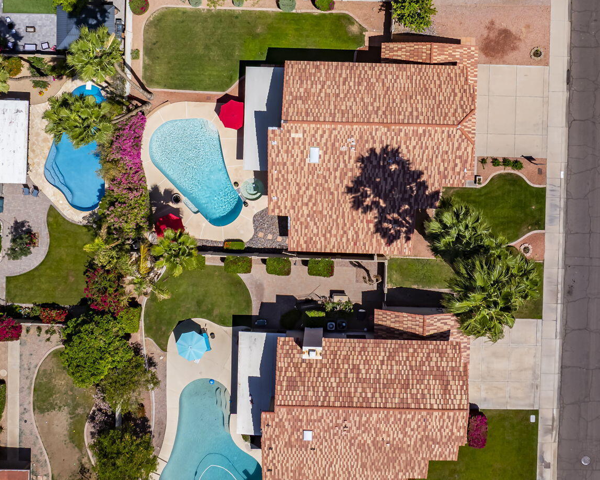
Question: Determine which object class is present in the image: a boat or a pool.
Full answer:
I can see a pool in this picture.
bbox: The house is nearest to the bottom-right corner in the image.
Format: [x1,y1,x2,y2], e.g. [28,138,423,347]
[236,309,474,480]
